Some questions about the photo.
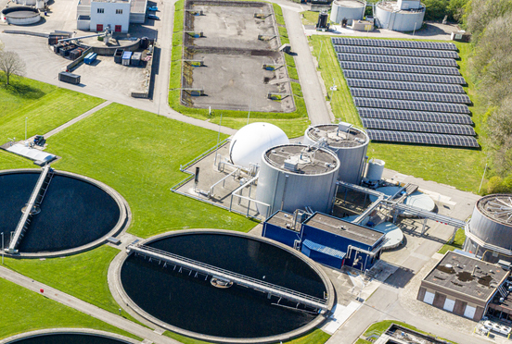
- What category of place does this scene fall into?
industrial area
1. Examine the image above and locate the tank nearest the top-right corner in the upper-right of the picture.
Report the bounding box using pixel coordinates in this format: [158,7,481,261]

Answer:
[371,0,427,32]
